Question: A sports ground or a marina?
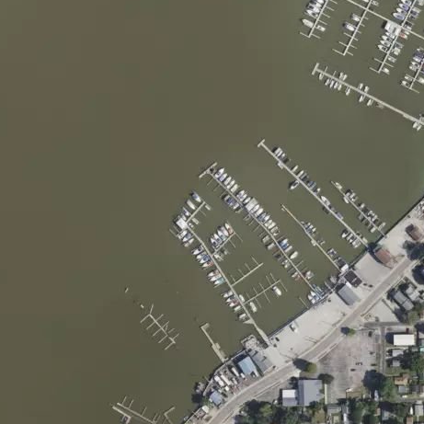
marina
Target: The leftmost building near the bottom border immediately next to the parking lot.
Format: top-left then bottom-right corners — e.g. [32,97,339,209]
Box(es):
[299,380,323,406]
